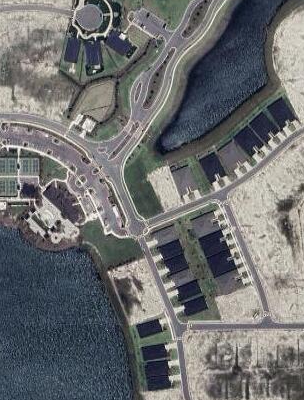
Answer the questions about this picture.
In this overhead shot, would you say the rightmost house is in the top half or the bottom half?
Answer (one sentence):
The rightmost house sits in the top half of the picture.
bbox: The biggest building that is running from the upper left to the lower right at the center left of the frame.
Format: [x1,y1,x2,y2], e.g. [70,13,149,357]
[43,180,83,220]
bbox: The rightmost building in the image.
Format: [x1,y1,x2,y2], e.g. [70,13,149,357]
[268,98,297,129]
